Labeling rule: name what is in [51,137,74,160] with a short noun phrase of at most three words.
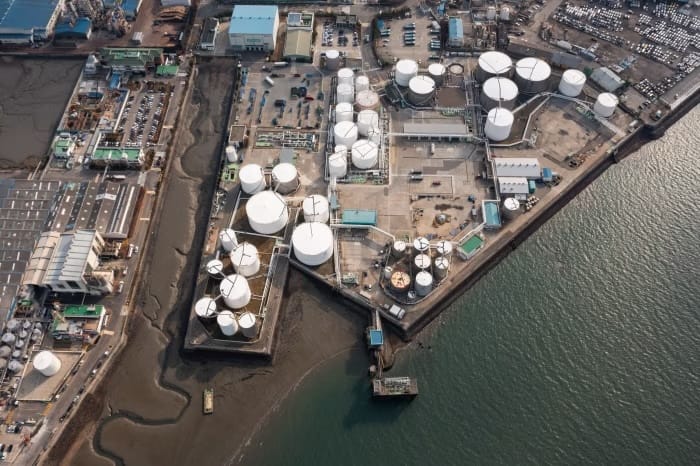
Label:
building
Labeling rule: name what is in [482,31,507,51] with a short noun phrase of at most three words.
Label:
shed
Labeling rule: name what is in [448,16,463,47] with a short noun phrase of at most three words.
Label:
shed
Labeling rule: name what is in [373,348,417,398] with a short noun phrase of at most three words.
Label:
pier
